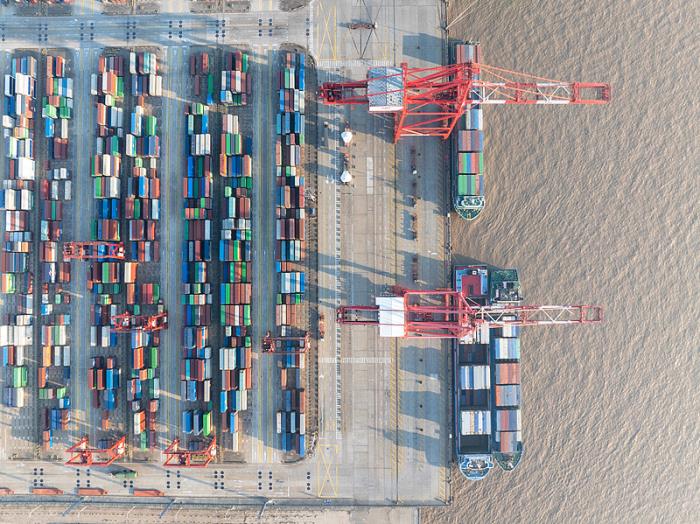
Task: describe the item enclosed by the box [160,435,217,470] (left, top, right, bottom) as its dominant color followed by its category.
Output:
red container crane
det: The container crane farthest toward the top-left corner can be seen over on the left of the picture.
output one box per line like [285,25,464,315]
[65,240,129,263]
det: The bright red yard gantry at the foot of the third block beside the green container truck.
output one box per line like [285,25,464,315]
[62,434,126,469]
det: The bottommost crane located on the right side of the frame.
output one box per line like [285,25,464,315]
[336,280,604,342]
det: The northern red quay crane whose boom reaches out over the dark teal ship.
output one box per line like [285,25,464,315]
[319,60,612,151]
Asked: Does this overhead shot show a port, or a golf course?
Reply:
port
